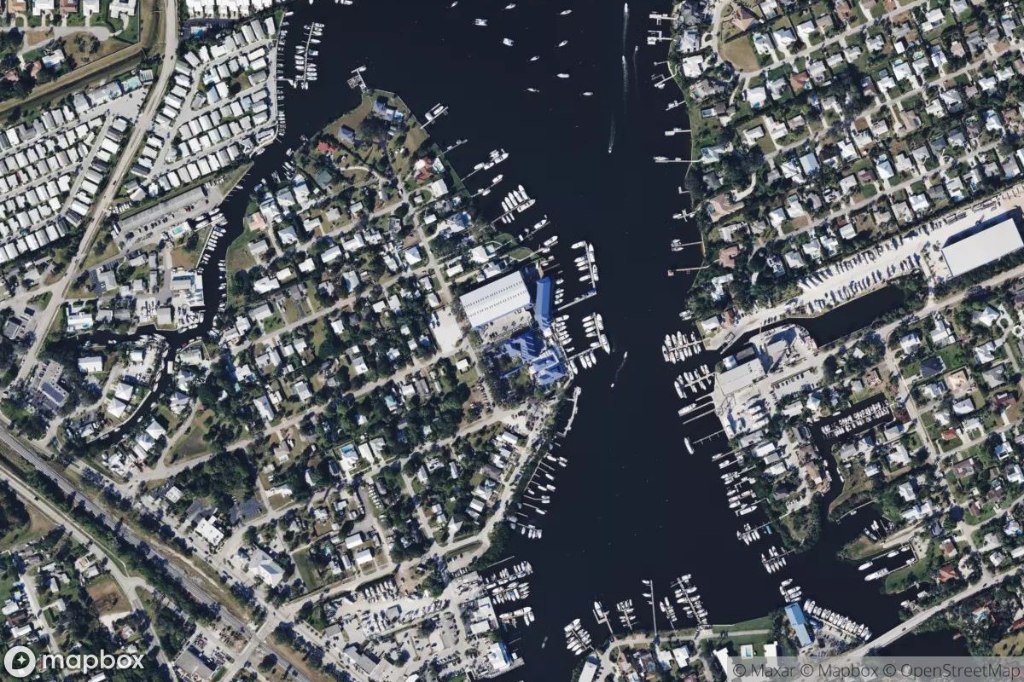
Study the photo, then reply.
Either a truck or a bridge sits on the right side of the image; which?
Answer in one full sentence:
There is a bridge on the right side of the image.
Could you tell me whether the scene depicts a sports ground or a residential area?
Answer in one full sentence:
What you see here is a residential area.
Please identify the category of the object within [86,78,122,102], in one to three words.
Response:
building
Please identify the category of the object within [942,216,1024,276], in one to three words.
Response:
shed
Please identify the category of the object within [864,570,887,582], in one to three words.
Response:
boat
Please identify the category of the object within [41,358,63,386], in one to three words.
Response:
house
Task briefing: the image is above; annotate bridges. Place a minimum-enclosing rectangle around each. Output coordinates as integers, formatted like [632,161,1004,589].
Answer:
[856,617,915,655]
